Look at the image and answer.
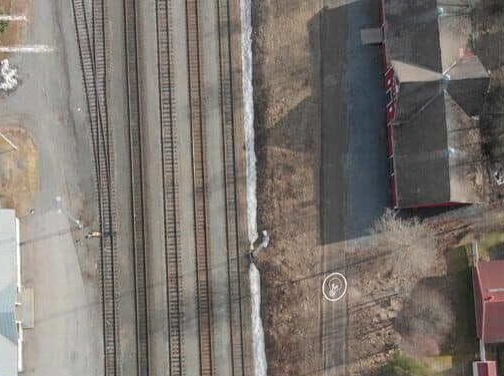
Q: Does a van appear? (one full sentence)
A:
No, I can't see a single van in this photo.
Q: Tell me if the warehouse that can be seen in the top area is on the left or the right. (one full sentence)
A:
The warehouse that can be seen in the top area is on the right side of the image.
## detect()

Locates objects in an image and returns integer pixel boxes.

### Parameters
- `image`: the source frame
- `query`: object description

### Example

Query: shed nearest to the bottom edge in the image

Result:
[471,361,497,376]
